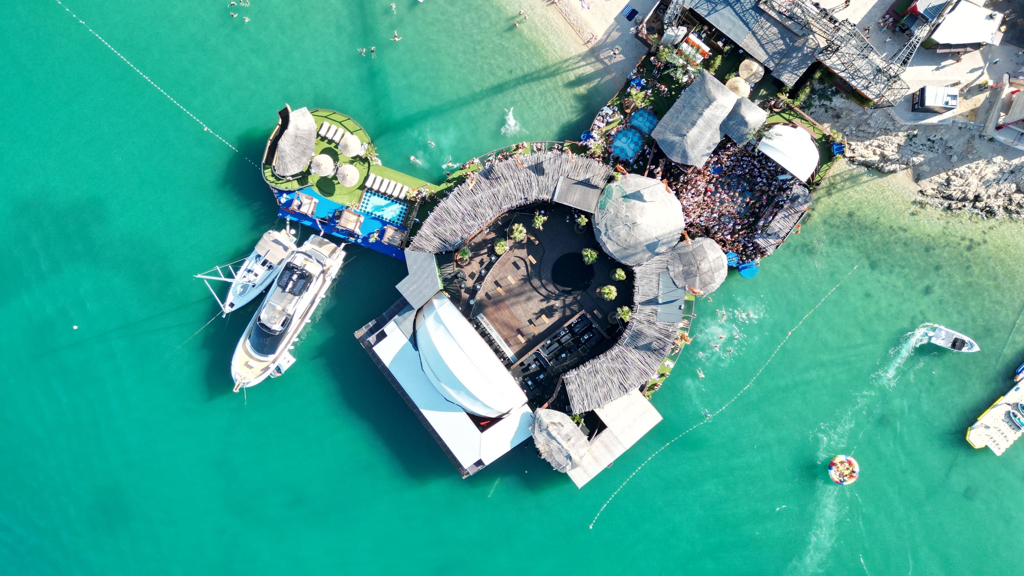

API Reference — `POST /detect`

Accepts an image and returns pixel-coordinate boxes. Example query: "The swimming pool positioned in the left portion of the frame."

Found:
[357,186,412,227]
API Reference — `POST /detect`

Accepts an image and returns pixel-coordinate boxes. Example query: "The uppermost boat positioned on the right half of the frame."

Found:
[928,327,981,352]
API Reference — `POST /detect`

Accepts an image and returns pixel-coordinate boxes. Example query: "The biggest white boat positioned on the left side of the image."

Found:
[229,231,350,398]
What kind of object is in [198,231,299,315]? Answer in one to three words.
boat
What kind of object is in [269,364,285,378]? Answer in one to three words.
boat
